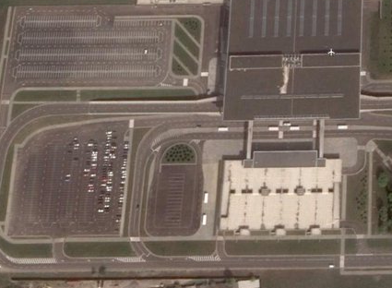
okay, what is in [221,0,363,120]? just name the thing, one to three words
building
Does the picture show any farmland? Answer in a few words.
No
